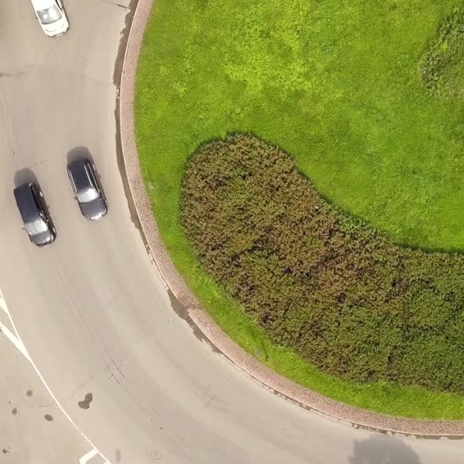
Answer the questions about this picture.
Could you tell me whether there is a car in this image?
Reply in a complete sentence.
Yes, looking at the shot, I can spot a car.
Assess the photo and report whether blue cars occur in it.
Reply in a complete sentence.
No, I find no blue car anywhere in the image.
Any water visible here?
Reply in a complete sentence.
No, the picture contains no water.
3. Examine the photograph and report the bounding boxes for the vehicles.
[29,0,69,39]
[13,182,57,248]
[70,160,109,222]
